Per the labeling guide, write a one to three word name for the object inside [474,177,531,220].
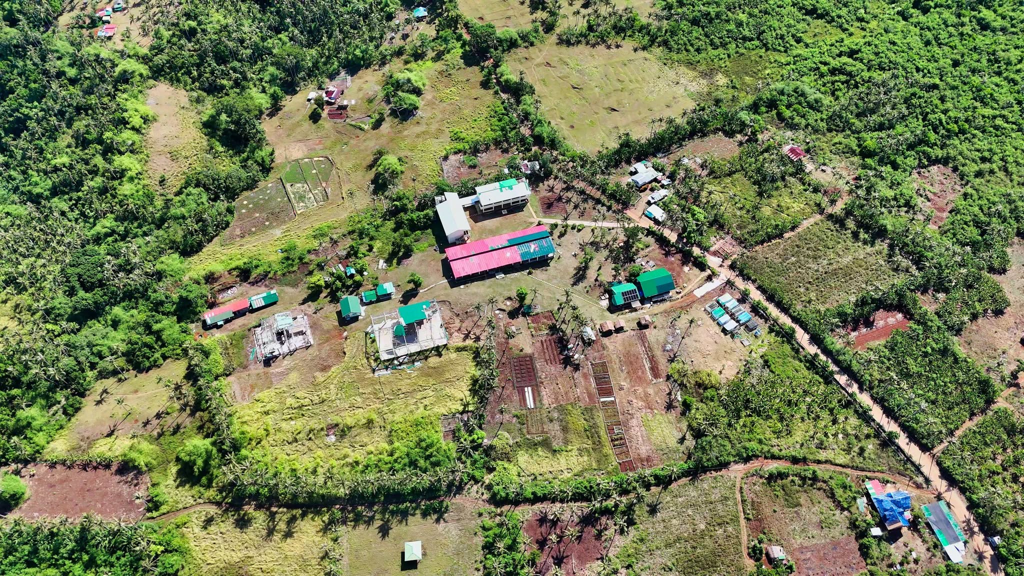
building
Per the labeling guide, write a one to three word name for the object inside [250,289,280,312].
shed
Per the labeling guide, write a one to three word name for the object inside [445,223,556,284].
building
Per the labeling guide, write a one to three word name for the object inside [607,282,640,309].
house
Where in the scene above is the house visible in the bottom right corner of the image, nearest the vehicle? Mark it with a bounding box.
[918,501,965,549]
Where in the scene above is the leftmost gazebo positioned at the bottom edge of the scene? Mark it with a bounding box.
[404,540,422,562]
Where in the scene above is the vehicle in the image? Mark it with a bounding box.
[988,532,1006,549]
